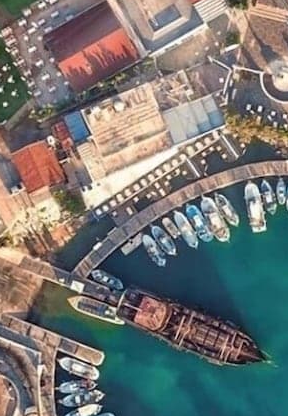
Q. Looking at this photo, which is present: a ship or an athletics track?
ship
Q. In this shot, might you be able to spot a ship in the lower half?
Yes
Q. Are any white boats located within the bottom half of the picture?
Yes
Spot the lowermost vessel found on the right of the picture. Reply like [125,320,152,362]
[106,282,273,365]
